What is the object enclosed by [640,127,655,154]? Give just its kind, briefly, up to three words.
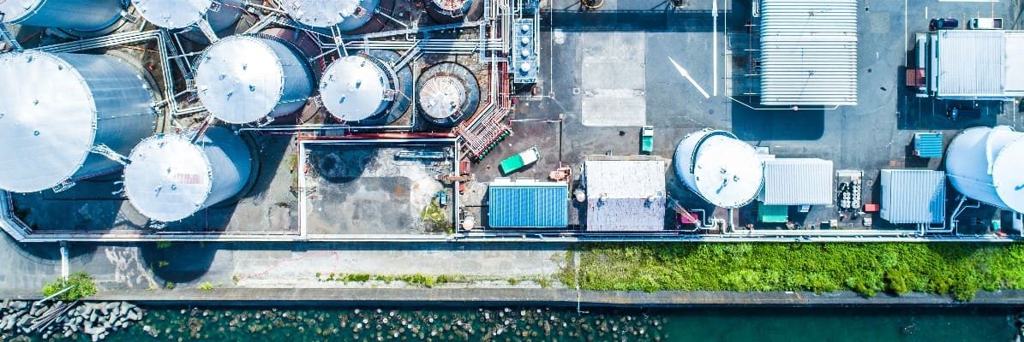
vehicle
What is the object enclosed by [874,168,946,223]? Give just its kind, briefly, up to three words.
shed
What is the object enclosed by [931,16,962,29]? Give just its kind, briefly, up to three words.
vehicle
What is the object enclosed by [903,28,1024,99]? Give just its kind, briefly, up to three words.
building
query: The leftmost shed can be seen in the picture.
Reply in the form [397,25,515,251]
[488,177,568,229]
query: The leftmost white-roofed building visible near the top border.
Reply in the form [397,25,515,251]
[753,0,857,105]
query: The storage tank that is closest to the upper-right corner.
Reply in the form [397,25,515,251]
[940,120,1024,214]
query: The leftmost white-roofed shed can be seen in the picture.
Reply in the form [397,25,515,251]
[584,155,668,231]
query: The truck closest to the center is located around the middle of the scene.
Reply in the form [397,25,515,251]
[499,145,540,175]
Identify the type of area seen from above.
industrial area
